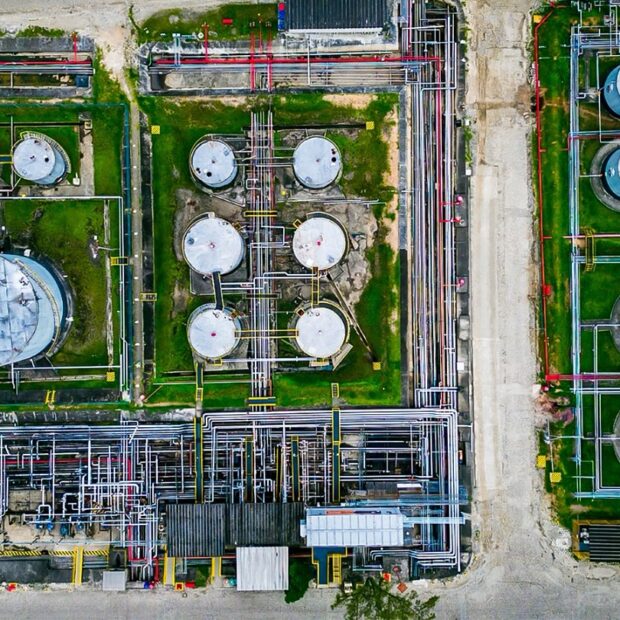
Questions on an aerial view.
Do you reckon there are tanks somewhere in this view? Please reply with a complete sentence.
Yes, there is a tank in the image.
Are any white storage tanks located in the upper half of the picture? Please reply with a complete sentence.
Yes, you'll find a white storage tank in the upper half of the picture.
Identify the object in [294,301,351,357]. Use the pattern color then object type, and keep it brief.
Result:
white storage tank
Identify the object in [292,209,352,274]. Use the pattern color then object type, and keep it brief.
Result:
white storage tank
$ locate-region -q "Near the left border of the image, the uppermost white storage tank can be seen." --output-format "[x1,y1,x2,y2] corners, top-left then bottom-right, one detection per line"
[12,128,71,187]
